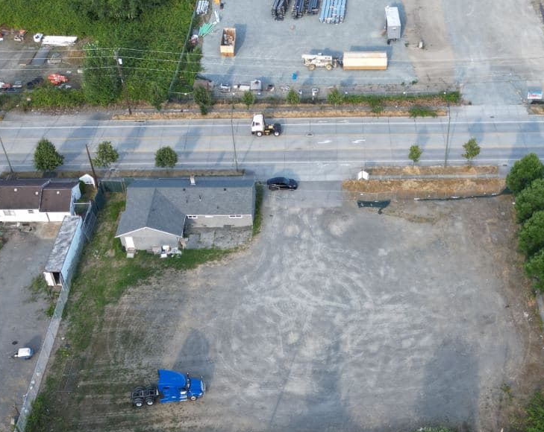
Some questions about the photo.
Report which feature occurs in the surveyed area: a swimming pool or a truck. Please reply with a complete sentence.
There is a truck in the scene.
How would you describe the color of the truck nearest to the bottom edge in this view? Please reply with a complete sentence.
The truck nearest to the bottom edge is blue.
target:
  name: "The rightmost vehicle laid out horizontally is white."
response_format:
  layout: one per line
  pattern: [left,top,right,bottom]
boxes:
[304,57,344,71]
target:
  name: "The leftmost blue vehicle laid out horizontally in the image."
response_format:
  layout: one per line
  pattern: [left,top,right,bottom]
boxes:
[133,373,206,409]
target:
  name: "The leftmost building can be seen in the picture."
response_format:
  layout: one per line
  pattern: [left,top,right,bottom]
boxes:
[0,178,82,224]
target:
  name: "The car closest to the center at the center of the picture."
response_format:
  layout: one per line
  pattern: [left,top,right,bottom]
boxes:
[266,176,298,190]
